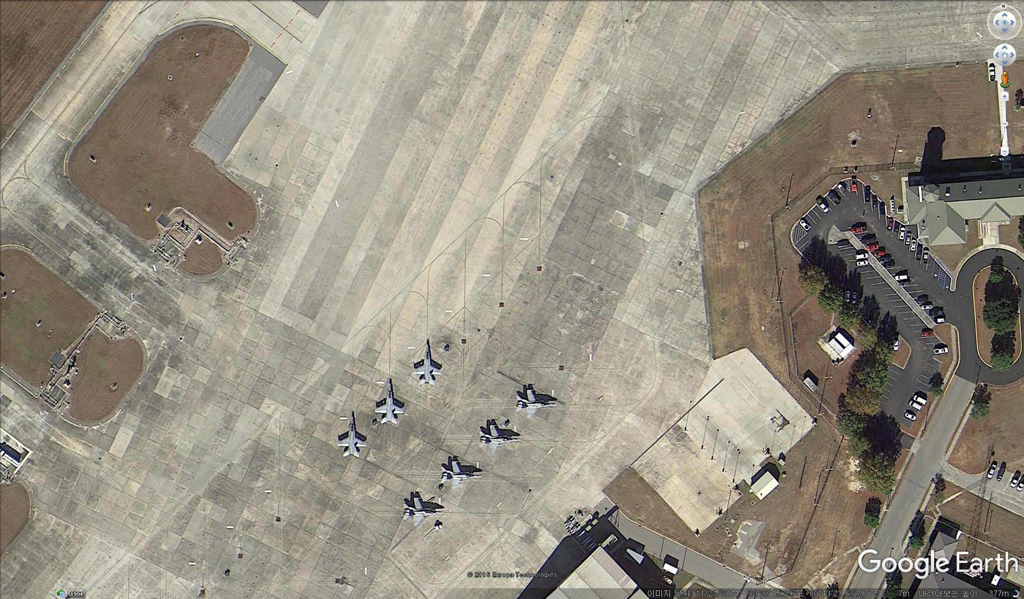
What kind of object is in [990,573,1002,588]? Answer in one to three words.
vehicle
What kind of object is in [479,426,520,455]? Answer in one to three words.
airplane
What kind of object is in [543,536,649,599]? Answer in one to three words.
hangar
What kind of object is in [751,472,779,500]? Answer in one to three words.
building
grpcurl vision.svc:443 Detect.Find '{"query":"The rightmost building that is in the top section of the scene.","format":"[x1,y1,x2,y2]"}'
[904,155,1024,245]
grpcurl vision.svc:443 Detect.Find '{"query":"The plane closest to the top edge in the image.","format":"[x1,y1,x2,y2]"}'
[413,344,441,384]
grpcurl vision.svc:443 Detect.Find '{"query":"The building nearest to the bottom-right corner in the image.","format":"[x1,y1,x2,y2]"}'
[918,532,1001,599]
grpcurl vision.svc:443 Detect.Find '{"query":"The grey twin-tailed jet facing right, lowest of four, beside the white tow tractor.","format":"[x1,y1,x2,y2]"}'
[404,499,443,527]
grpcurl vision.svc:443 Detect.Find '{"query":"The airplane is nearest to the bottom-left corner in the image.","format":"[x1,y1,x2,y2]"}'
[338,417,366,457]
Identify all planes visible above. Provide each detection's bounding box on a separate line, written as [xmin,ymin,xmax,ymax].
[516,391,557,419]
[404,499,443,527]
[479,426,520,455]
[376,383,404,424]
[338,417,366,457]
[441,463,481,491]
[413,344,441,384]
